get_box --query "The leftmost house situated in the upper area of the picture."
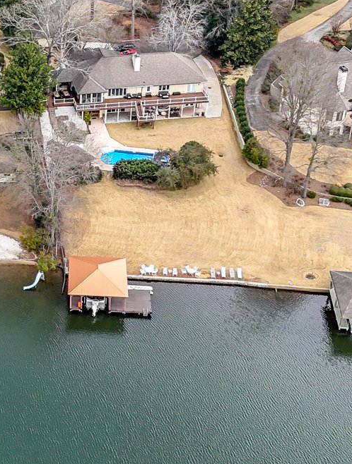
[39,43,215,131]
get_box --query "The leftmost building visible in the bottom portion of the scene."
[66,256,153,321]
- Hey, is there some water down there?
Yes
